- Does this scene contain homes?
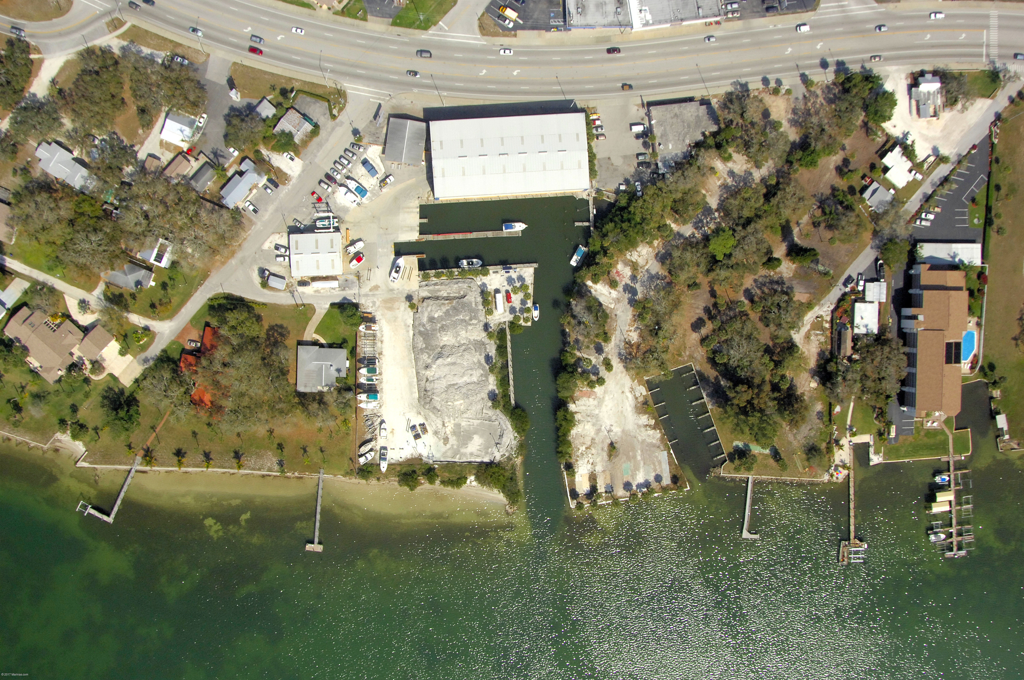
Yes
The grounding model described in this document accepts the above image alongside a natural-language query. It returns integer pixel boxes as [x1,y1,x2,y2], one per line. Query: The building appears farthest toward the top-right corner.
[909,73,942,119]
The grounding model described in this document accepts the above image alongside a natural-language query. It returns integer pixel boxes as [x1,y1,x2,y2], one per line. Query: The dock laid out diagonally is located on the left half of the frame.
[87,456,142,523]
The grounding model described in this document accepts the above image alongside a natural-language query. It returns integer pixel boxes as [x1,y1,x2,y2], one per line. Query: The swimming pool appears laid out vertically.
[965,329,977,362]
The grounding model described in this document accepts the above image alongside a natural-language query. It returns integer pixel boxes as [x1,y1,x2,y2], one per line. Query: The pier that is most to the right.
[926,422,974,557]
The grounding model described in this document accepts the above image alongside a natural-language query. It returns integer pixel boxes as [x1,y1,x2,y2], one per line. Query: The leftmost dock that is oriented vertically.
[306,469,324,552]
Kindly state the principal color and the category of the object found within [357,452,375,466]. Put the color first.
white boat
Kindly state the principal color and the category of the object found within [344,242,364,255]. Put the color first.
white boat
